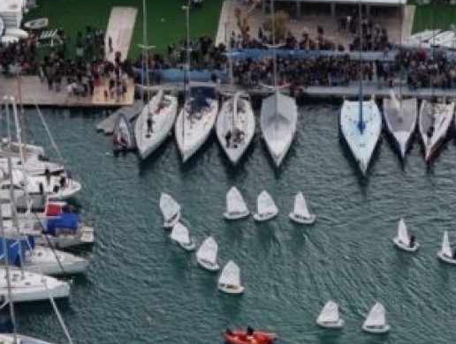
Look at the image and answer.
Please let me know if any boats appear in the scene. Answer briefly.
Yes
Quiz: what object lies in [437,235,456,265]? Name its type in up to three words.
boat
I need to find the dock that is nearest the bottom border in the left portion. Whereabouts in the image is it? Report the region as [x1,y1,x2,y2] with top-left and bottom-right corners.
[97,107,140,138]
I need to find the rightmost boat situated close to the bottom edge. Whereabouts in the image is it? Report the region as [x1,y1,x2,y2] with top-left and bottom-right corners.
[359,305,390,335]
